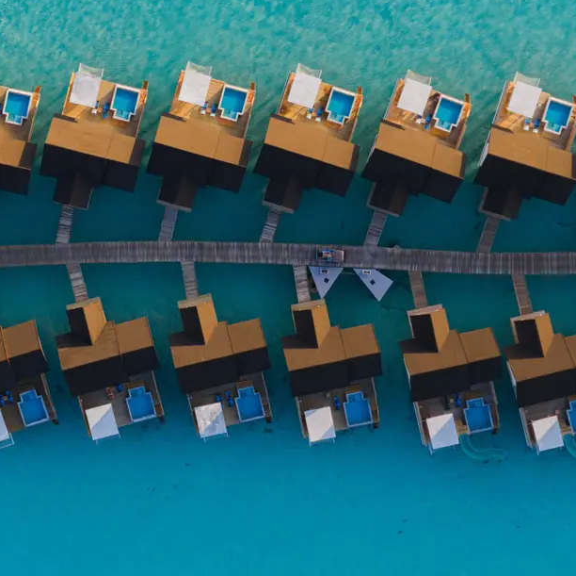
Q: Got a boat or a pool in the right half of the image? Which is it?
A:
pool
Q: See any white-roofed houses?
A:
No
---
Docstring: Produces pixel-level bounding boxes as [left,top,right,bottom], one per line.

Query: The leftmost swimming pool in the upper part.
[3,90,33,127]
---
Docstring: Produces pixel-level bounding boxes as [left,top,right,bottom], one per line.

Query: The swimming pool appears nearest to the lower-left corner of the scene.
[18,393,49,429]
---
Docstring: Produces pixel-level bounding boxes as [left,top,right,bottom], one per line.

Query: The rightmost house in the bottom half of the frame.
[504,309,576,454]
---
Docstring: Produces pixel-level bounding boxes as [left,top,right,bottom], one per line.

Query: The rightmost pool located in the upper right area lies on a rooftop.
[542,97,574,134]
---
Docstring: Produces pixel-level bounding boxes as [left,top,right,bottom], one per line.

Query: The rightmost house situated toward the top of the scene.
[473,71,576,224]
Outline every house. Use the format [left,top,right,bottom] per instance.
[361,67,473,221]
[280,300,383,444]
[168,296,273,440]
[0,86,44,199]
[254,61,365,216]
[0,320,61,452]
[399,305,503,451]
[473,71,576,224]
[41,61,151,214]
[56,297,167,441]
[504,309,576,454]
[149,61,258,214]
